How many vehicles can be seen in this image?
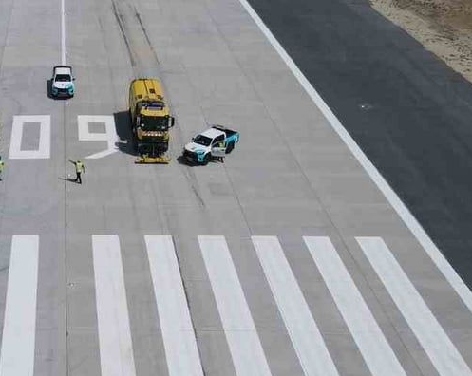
3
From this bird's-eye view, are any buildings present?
No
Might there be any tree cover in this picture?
No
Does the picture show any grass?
No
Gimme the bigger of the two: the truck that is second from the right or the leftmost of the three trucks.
the truck that is second from the right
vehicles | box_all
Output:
[183,125,238,161]
[50,66,75,95]
[132,79,173,164]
